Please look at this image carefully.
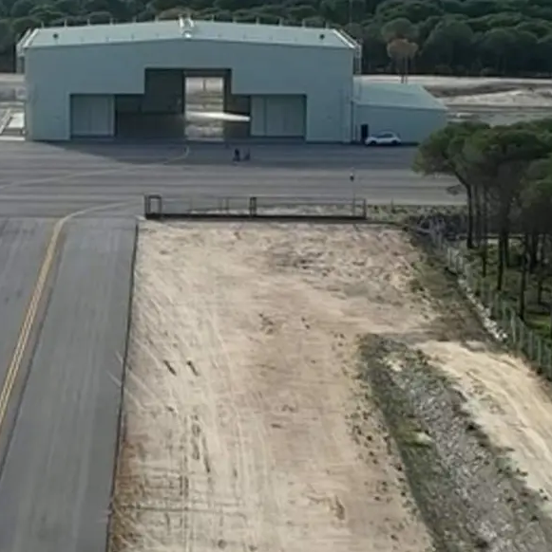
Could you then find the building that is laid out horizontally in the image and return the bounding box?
[15,11,452,141]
